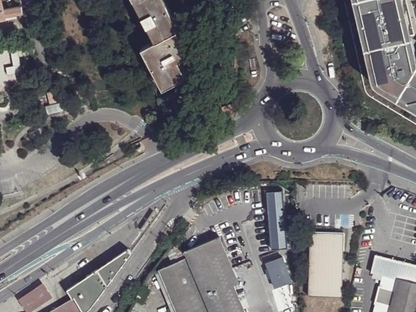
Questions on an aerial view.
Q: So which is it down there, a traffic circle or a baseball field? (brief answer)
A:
traffic circle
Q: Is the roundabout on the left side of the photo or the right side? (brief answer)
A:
right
